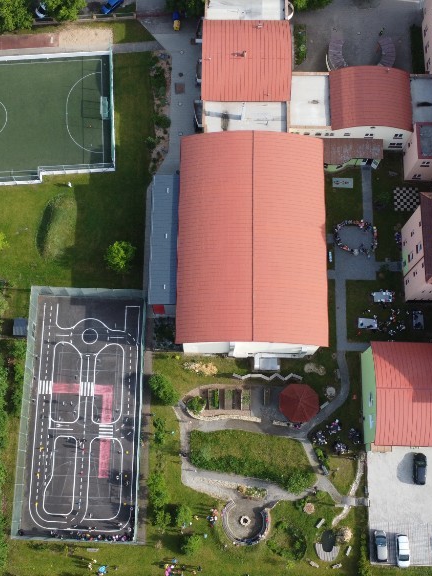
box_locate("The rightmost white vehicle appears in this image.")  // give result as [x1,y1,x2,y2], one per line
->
[393,534,412,569]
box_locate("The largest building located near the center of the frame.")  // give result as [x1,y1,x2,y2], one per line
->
[175,128,329,374]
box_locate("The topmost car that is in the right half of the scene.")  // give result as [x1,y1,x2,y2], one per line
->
[410,453,428,485]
